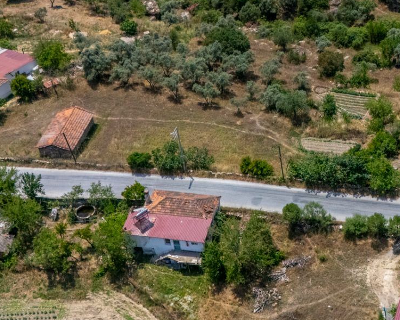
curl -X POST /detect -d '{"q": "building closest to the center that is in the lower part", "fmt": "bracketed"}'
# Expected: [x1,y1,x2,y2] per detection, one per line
[124,184,228,274]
